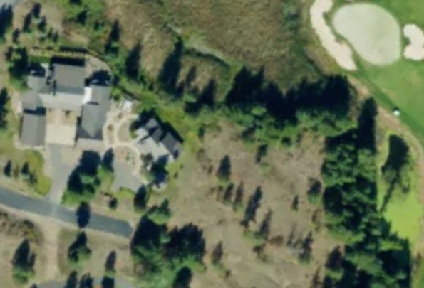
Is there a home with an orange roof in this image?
No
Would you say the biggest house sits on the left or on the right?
left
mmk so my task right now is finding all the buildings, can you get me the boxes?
[19,63,111,147]
[134,118,184,162]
